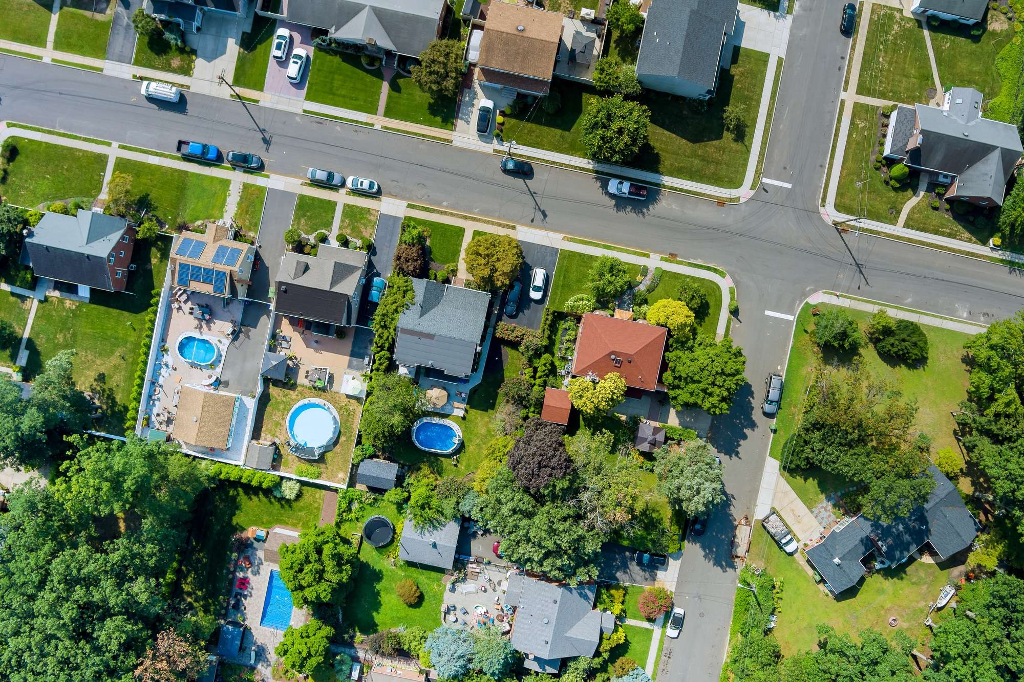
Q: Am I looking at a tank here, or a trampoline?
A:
trampoline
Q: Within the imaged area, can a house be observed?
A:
Yes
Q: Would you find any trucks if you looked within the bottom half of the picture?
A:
Yes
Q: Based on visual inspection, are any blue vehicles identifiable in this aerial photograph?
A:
Yes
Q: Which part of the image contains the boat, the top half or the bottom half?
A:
bottom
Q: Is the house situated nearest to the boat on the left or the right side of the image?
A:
right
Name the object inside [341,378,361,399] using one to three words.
umbrella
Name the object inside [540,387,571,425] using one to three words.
shed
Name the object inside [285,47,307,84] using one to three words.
car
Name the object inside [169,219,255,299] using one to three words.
house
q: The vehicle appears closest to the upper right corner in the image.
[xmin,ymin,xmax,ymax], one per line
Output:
[839,3,859,35]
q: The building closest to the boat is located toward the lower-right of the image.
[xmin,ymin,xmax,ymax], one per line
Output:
[801,457,982,594]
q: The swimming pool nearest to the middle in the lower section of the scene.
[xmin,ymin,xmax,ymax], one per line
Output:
[412,417,462,454]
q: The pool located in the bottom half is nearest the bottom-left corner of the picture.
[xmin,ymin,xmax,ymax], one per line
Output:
[258,567,293,633]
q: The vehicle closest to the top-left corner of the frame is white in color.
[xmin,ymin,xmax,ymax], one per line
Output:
[141,79,182,103]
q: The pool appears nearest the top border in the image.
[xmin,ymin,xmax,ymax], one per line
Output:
[178,334,218,366]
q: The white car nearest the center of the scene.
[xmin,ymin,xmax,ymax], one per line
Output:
[529,266,547,301]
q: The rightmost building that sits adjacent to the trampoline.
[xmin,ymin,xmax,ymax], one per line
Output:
[398,512,463,570]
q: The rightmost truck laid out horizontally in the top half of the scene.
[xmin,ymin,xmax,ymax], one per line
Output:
[608,180,648,201]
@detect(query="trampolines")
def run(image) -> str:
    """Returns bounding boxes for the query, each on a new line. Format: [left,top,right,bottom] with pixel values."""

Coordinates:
[360,514,395,550]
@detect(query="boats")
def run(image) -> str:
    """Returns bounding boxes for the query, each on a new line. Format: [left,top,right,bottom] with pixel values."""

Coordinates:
[936,582,959,609]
